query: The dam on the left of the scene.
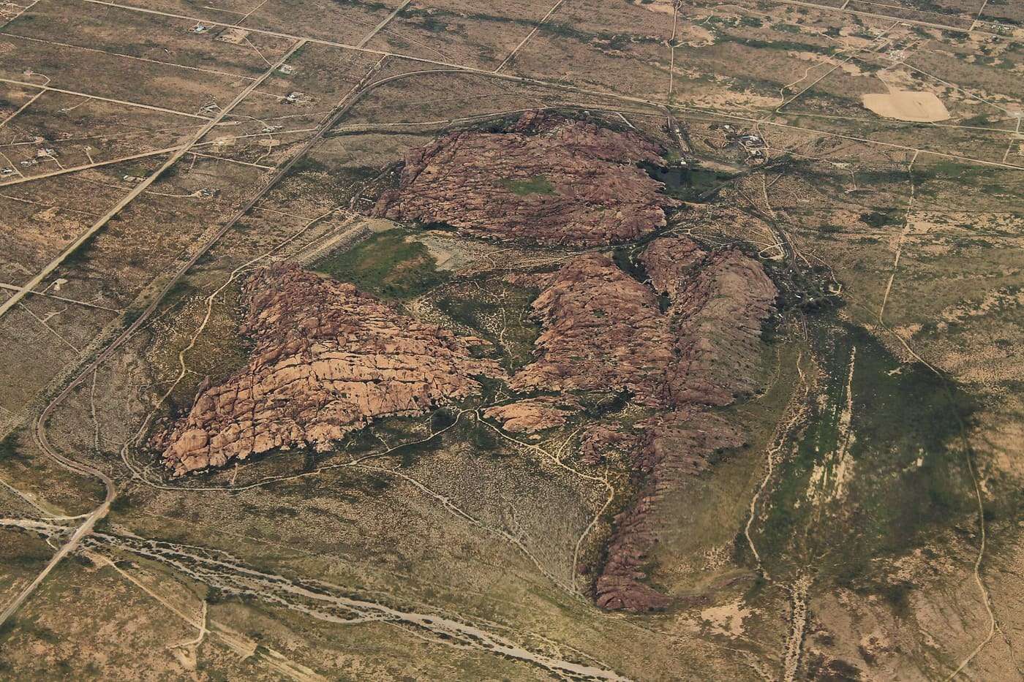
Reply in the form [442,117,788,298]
[289,215,377,268]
